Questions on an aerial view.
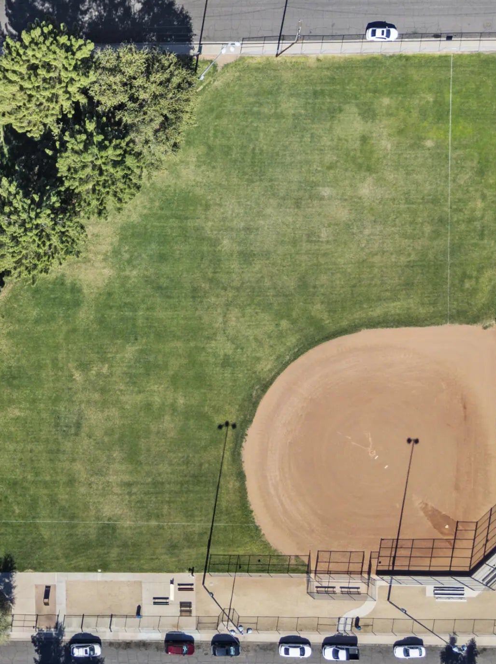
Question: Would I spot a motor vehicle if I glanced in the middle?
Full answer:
No, I see no motor vehicle in the middle.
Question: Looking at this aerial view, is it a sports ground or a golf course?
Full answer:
What you see here is a sports ground.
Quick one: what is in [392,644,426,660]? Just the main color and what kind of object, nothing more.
white car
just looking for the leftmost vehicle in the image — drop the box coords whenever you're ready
[70,642,102,659]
